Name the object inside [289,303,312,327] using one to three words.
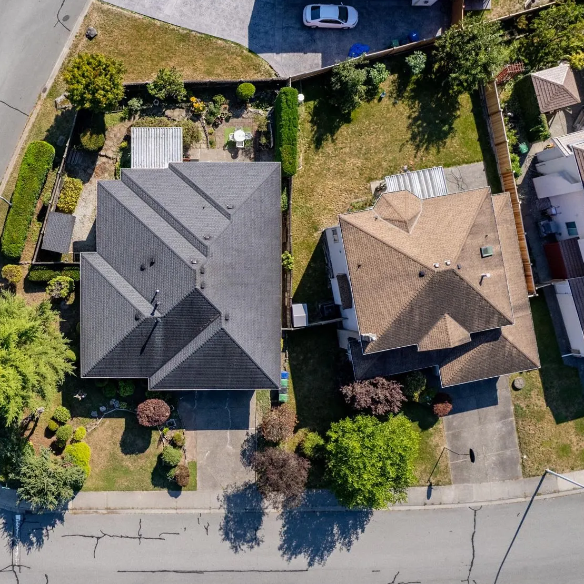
shed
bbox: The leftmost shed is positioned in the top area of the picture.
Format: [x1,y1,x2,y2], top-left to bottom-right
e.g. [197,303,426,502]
[42,212,75,254]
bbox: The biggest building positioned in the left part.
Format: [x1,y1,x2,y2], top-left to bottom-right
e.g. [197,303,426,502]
[80,161,282,390]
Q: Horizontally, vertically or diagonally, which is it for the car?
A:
horizontally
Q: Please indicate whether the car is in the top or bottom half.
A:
top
